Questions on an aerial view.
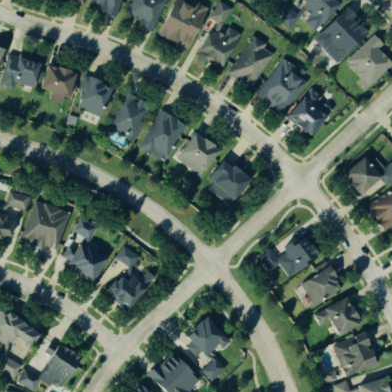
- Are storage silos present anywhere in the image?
No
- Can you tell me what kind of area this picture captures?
residential area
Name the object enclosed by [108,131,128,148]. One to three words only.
swimming pool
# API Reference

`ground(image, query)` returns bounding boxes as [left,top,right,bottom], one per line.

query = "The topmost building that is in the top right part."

[281,0,344,32]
